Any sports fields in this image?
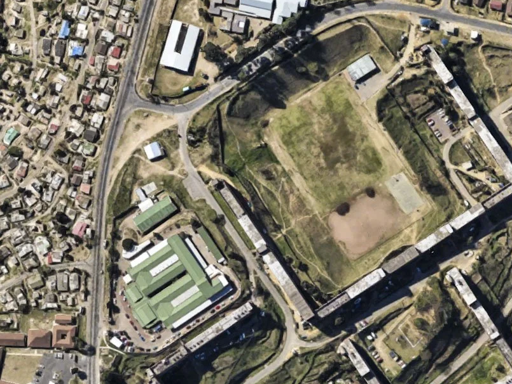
Yes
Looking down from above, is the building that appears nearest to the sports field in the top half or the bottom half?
top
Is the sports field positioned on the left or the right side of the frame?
right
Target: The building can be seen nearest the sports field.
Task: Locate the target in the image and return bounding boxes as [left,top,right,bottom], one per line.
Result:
[347,53,378,81]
